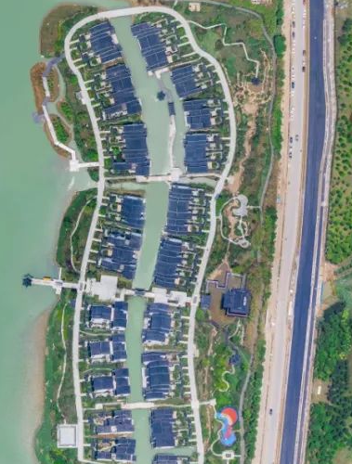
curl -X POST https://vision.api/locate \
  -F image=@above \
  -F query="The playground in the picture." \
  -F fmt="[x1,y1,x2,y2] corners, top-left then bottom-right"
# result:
[217,408,238,446]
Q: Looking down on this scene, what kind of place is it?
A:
residential area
